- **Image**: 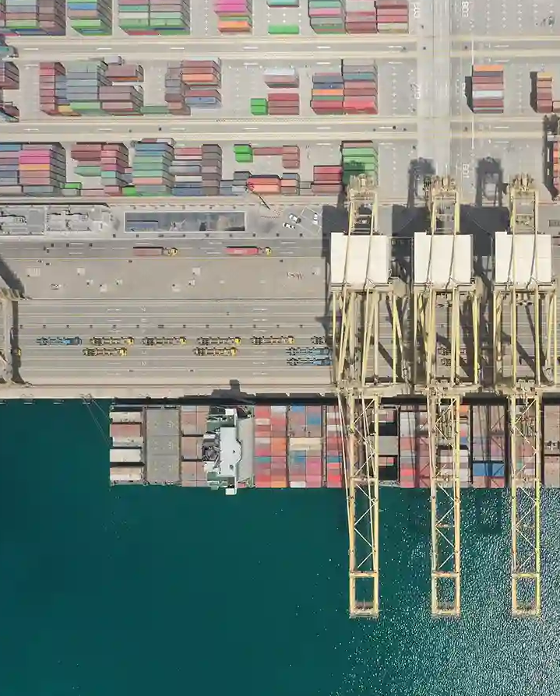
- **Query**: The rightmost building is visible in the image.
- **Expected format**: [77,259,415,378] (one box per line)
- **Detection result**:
[47,205,109,233]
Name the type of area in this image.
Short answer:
port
